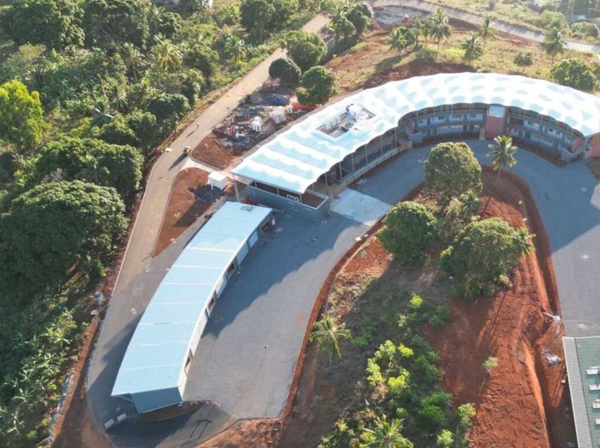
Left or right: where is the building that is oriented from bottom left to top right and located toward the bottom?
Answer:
left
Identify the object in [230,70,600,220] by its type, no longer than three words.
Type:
building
